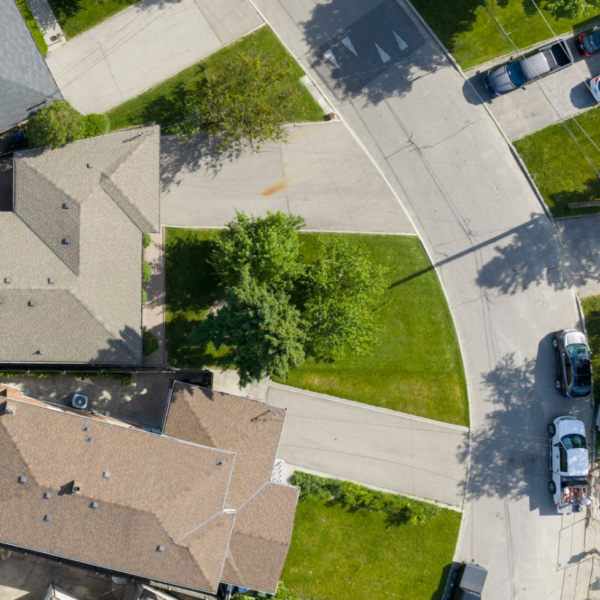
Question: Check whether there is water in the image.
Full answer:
No, there is no water in the image.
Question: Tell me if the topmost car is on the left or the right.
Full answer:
You can find the topmost car on the right side of the picture.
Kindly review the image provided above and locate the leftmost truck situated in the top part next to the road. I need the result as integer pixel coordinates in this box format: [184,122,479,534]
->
[478,37,577,97]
